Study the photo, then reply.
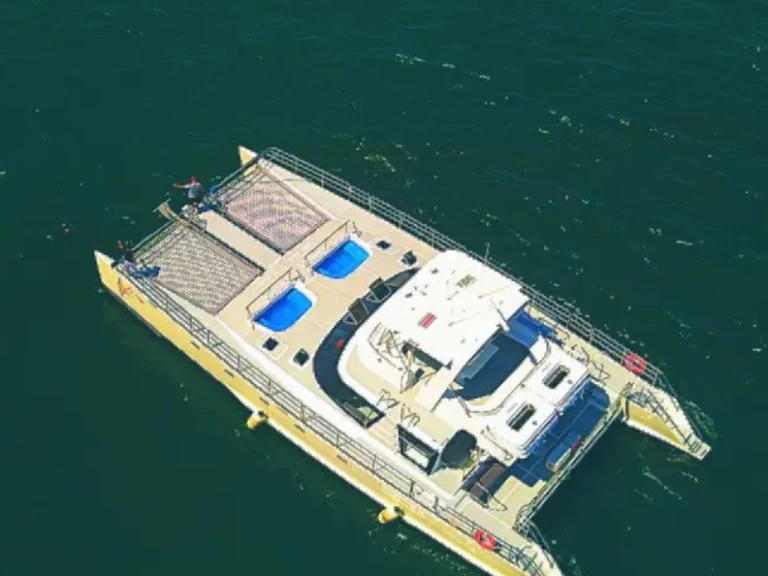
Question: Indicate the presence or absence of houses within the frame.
No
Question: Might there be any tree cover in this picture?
No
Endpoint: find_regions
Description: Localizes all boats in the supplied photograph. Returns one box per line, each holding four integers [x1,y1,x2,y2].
[97,144,712,576]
